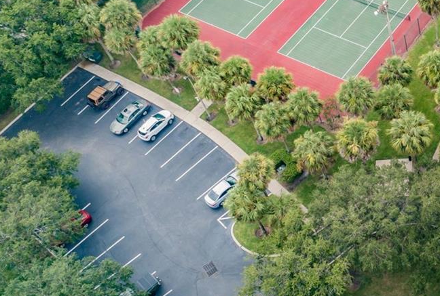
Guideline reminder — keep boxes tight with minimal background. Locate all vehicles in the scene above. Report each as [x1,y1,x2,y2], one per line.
[82,77,122,106]
[133,108,173,140]
[65,204,96,239]
[106,98,148,132]
[130,262,165,296]
[200,167,241,205]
